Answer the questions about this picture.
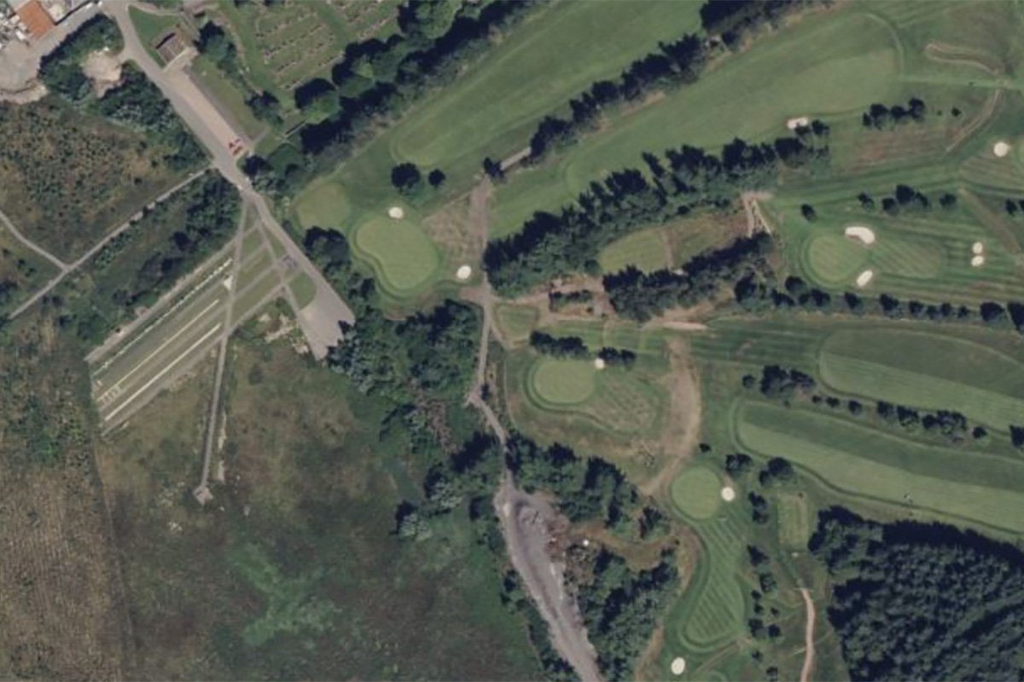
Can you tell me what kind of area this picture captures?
golf course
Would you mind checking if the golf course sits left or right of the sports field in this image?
right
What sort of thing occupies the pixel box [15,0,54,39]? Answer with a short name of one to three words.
building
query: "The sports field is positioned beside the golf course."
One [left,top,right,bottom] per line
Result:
[82,208,313,437]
